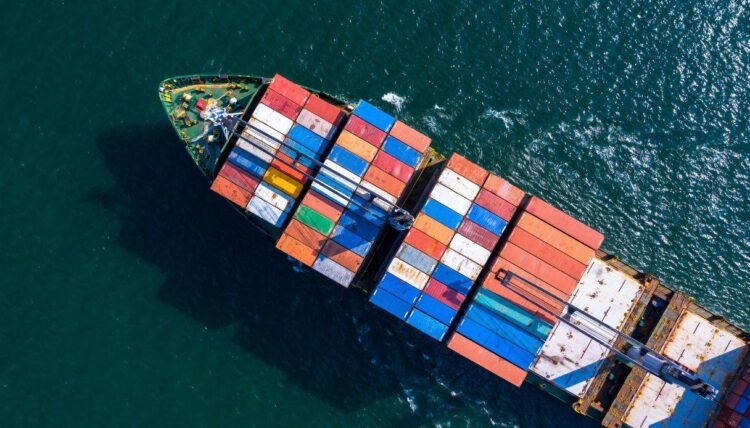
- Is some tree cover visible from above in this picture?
No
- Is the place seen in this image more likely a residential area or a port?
port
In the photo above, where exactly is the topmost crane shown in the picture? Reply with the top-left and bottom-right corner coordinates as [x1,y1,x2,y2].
[207,110,415,234]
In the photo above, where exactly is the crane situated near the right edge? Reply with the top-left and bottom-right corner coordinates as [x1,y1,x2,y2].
[486,260,718,405]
